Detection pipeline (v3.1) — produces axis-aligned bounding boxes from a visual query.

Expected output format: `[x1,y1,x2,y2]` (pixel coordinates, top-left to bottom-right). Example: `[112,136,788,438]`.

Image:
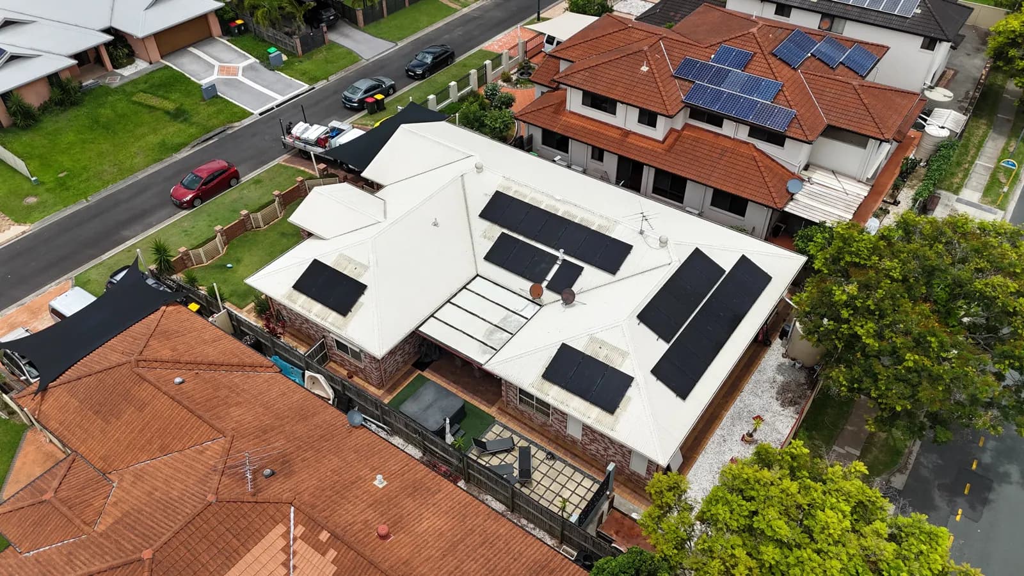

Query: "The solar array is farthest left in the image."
[292,260,366,316]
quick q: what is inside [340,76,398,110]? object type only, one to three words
car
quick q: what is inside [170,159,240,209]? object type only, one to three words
car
